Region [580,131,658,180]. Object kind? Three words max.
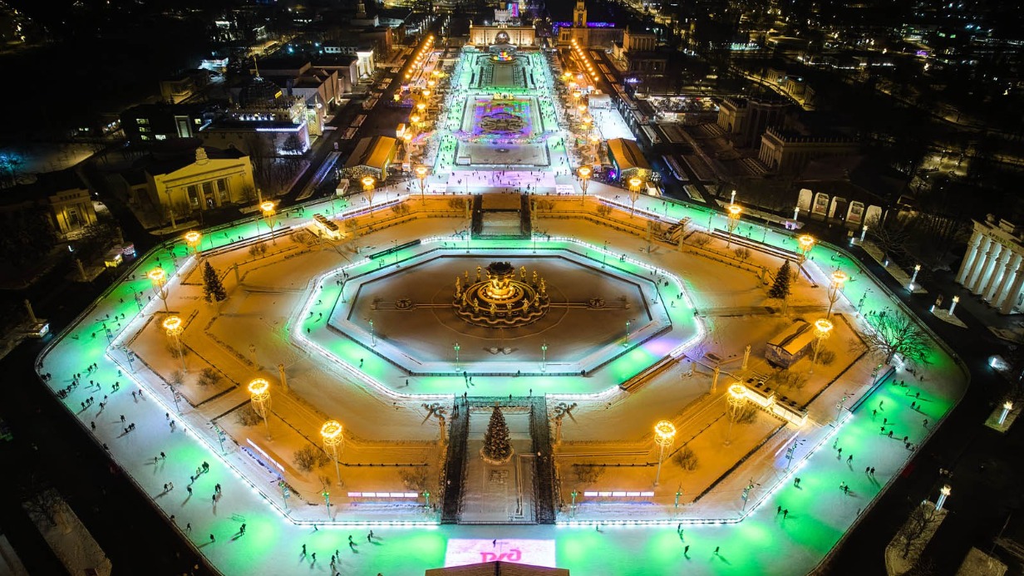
building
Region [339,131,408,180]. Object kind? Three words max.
building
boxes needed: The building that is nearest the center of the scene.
[482,188,521,211]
